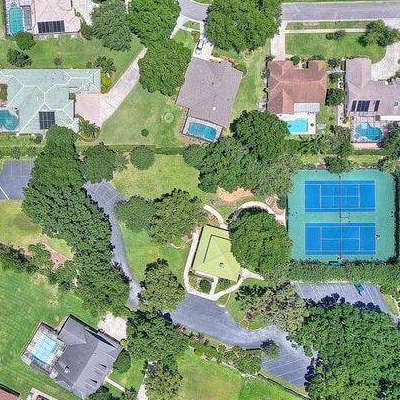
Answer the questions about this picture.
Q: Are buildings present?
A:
Yes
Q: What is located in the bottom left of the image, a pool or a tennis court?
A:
pool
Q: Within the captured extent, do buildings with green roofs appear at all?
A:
Yes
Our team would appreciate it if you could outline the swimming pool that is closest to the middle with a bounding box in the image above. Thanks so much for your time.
[182,116,224,142]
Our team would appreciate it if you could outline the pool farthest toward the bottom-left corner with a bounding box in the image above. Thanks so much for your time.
[22,323,68,375]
